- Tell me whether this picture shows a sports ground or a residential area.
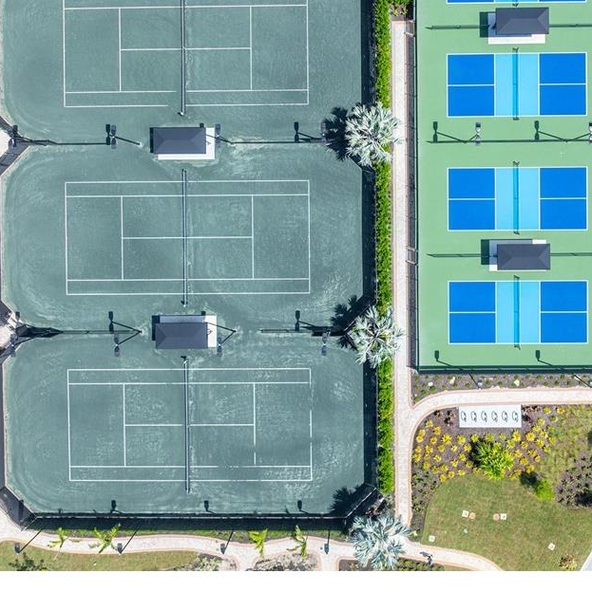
sports ground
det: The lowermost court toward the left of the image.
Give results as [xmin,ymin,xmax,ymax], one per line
[4,332,376,517]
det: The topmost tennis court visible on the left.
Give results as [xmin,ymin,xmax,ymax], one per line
[0,0,374,143]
